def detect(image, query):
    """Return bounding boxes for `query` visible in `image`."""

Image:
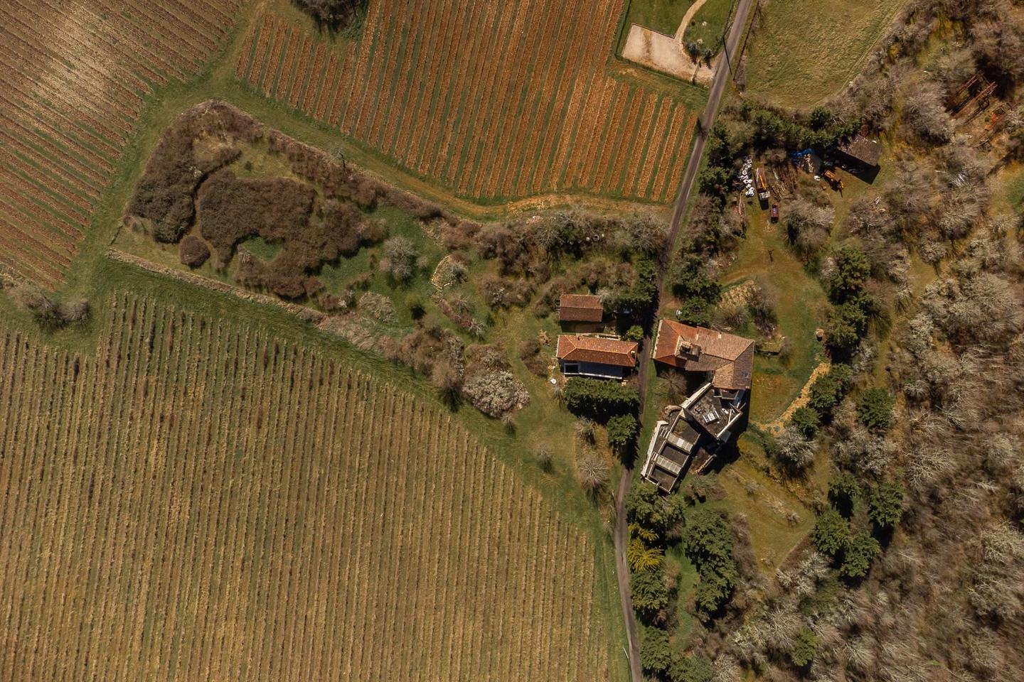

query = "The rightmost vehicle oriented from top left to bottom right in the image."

[822,166,845,190]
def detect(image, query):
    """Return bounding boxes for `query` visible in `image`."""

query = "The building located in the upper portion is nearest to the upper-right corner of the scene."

[833,133,883,167]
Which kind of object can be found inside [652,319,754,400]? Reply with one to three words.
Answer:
house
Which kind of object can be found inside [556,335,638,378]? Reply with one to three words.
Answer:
house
